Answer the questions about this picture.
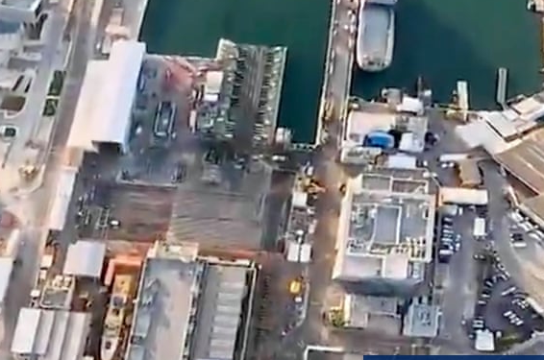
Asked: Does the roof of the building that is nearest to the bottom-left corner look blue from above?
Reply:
No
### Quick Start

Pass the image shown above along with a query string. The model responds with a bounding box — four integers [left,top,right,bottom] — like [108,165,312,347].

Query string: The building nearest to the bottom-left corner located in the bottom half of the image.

[11,307,42,360]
